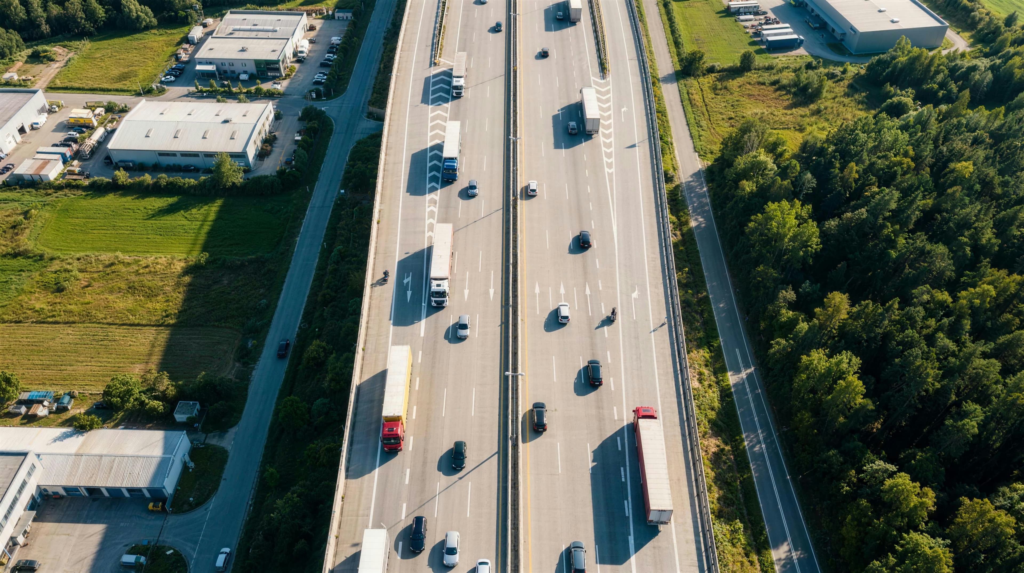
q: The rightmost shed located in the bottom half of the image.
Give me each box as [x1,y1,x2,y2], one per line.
[173,400,202,424]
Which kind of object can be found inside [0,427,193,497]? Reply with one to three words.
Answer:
building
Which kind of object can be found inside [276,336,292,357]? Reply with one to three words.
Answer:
car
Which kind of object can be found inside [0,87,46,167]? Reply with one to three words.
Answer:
building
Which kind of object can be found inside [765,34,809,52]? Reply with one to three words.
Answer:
vehicle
